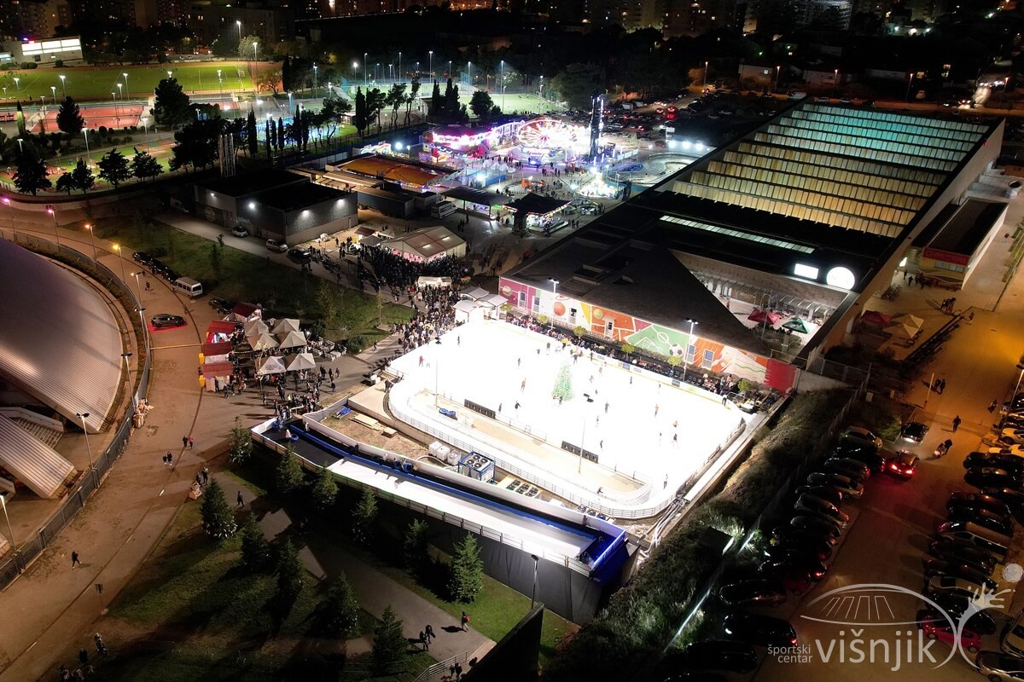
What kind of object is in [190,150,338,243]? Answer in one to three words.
building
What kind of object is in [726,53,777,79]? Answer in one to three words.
house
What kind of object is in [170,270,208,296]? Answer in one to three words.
vehicle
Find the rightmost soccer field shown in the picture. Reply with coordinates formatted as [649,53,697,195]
[301,81,560,116]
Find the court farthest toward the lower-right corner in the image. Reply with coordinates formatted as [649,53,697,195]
[387,321,745,524]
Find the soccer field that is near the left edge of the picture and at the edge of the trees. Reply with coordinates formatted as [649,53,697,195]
[0,63,257,99]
